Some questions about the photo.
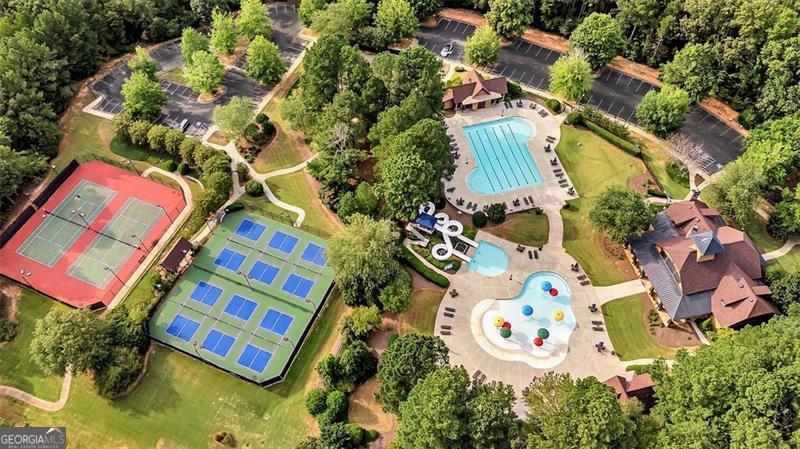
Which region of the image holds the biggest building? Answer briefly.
right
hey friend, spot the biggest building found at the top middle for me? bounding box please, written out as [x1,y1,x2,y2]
[439,71,508,112]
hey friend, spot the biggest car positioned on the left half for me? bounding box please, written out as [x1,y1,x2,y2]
[177,117,190,130]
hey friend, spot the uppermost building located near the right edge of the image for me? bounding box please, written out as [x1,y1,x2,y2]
[622,181,777,333]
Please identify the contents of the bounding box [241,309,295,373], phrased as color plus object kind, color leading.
blue sports court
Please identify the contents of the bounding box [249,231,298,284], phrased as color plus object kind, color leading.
blue sports court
